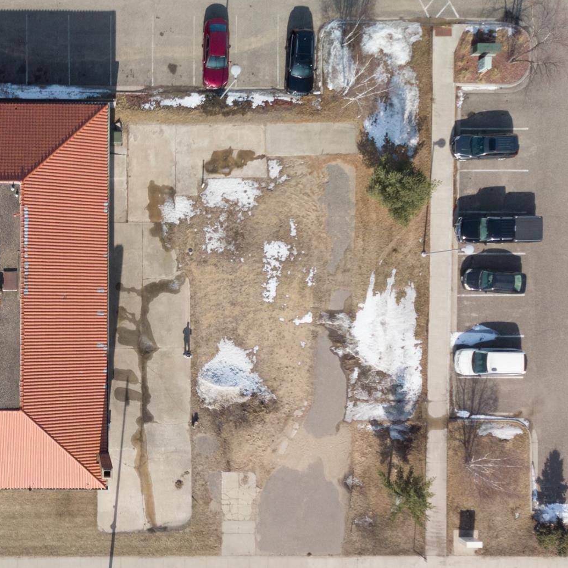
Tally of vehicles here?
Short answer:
6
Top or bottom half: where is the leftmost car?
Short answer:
top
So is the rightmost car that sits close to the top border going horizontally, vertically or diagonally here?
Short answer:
vertically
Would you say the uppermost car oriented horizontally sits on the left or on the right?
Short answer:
right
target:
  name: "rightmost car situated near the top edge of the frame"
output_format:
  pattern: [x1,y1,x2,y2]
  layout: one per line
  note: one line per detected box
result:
[283,27,318,96]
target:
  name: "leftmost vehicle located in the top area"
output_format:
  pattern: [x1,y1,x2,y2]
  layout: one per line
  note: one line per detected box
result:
[199,18,232,92]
